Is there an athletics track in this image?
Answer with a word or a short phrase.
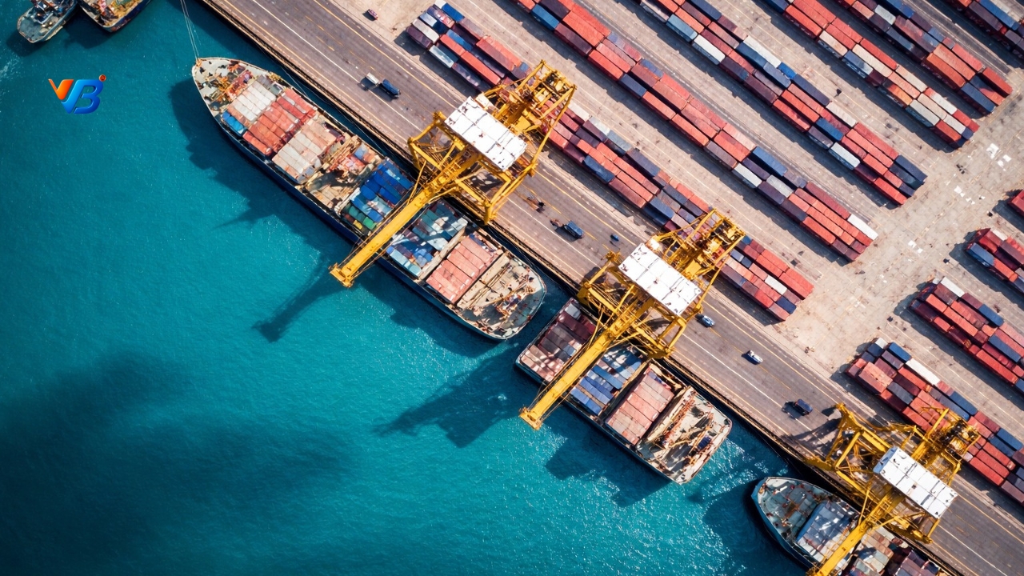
No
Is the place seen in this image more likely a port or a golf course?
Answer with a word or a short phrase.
port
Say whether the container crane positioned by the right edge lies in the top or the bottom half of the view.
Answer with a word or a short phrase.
bottom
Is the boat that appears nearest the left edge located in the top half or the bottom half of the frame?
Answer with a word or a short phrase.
top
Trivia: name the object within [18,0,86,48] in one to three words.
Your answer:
boat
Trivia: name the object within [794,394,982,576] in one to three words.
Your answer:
container crane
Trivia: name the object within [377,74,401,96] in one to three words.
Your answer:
truck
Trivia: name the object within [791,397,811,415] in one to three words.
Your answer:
vehicle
